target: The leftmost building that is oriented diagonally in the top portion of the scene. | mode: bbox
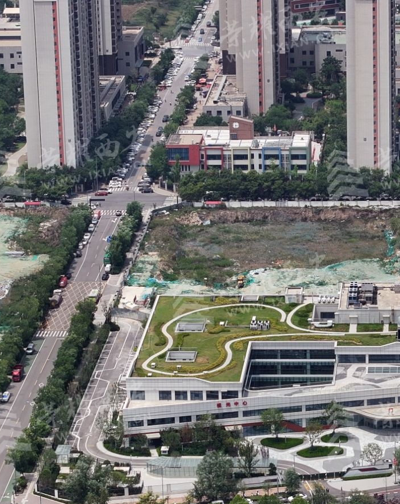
[100,78,129,120]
